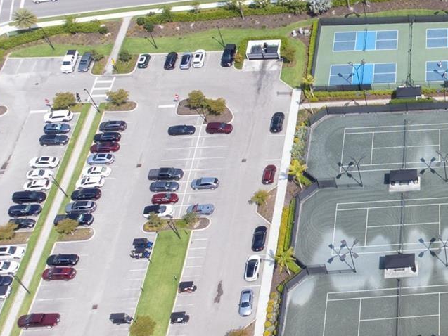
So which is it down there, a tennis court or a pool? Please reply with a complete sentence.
Visible in the photo is a tennis court.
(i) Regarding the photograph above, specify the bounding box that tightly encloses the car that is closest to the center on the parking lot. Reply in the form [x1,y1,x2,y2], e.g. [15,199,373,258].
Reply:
[193,178,219,190]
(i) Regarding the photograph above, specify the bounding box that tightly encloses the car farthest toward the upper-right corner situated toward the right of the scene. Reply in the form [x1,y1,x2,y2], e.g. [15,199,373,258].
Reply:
[270,112,285,133]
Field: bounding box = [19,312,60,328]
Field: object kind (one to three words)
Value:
vehicle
